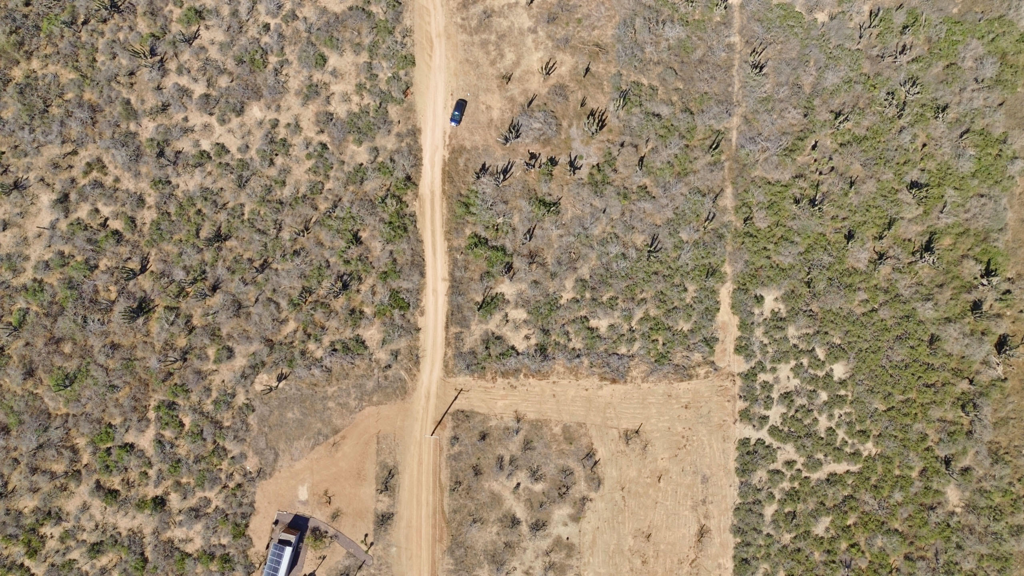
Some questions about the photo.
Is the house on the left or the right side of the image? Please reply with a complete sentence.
You can find the house on the left side of the picture.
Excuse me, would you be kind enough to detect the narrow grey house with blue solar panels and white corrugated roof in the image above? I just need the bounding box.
[263,526,301,576]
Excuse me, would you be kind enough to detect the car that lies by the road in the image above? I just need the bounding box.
[448,98,466,126]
